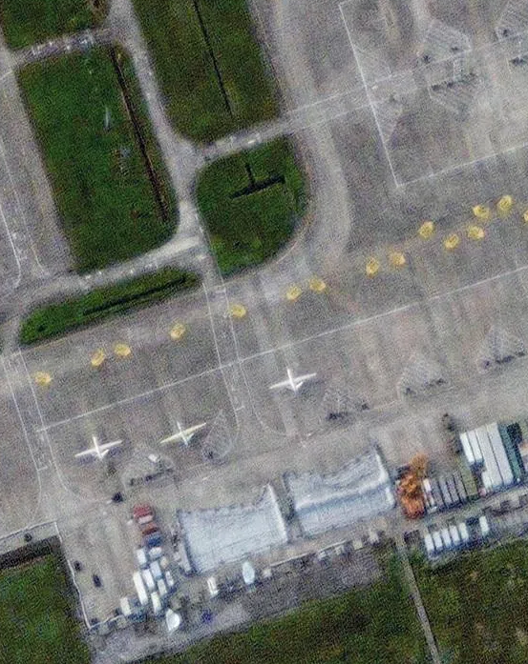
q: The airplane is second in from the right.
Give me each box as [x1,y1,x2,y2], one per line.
[161,422,206,447]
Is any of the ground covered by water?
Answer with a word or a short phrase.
No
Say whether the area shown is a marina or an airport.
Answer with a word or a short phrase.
airport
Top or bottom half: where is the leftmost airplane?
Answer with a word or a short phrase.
bottom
